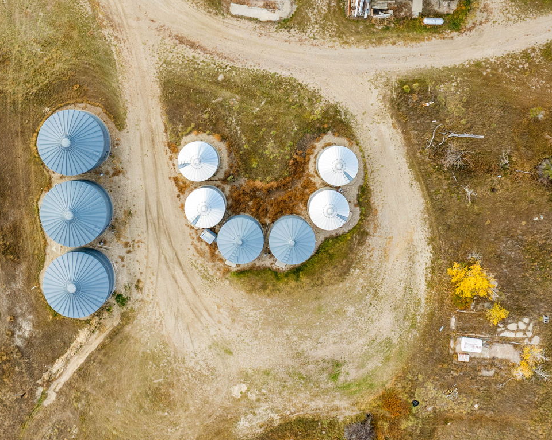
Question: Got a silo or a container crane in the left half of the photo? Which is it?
silo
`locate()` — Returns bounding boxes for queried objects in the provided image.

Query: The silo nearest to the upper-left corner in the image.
[37,106,114,177]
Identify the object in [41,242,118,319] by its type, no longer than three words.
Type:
silo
